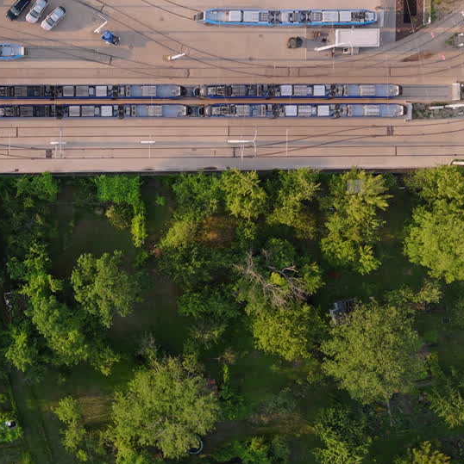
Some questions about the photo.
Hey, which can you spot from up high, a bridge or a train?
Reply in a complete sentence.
I can see a train in this picture.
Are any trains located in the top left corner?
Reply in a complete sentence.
Yes, the scene does show a train in the top left corner.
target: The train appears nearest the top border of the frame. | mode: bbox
[191,9,375,28]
